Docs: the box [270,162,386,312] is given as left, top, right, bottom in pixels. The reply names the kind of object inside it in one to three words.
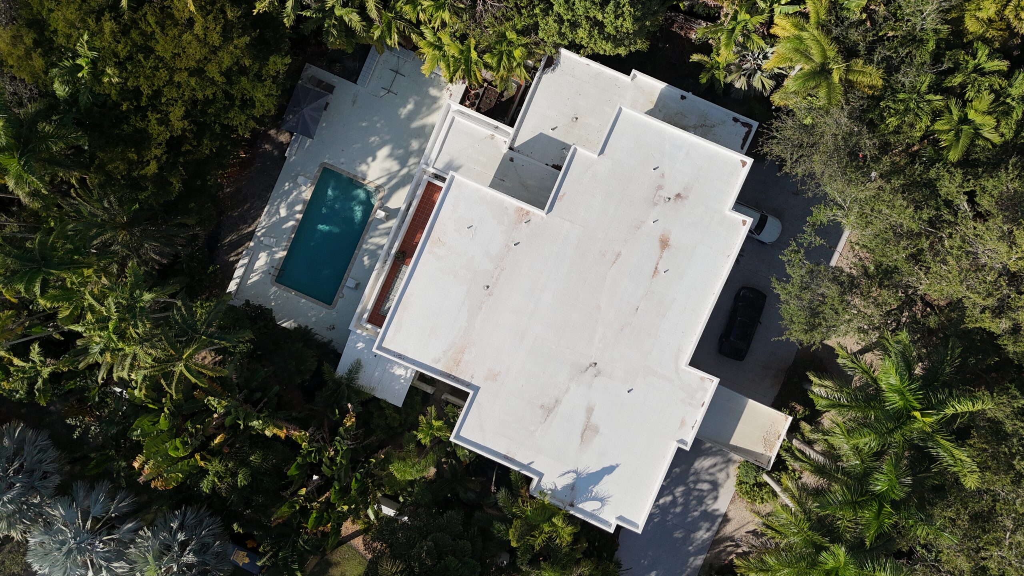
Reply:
swimming pool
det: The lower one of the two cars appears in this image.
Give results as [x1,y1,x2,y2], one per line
[717,285,768,362]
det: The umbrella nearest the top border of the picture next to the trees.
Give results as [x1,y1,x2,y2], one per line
[279,85,331,142]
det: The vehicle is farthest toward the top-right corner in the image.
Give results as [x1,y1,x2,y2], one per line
[732,199,781,244]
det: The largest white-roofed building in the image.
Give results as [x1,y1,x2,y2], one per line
[348,45,758,533]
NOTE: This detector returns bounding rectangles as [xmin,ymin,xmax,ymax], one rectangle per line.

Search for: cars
[732,199,781,244]
[717,285,768,362]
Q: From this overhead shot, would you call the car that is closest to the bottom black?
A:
Yes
